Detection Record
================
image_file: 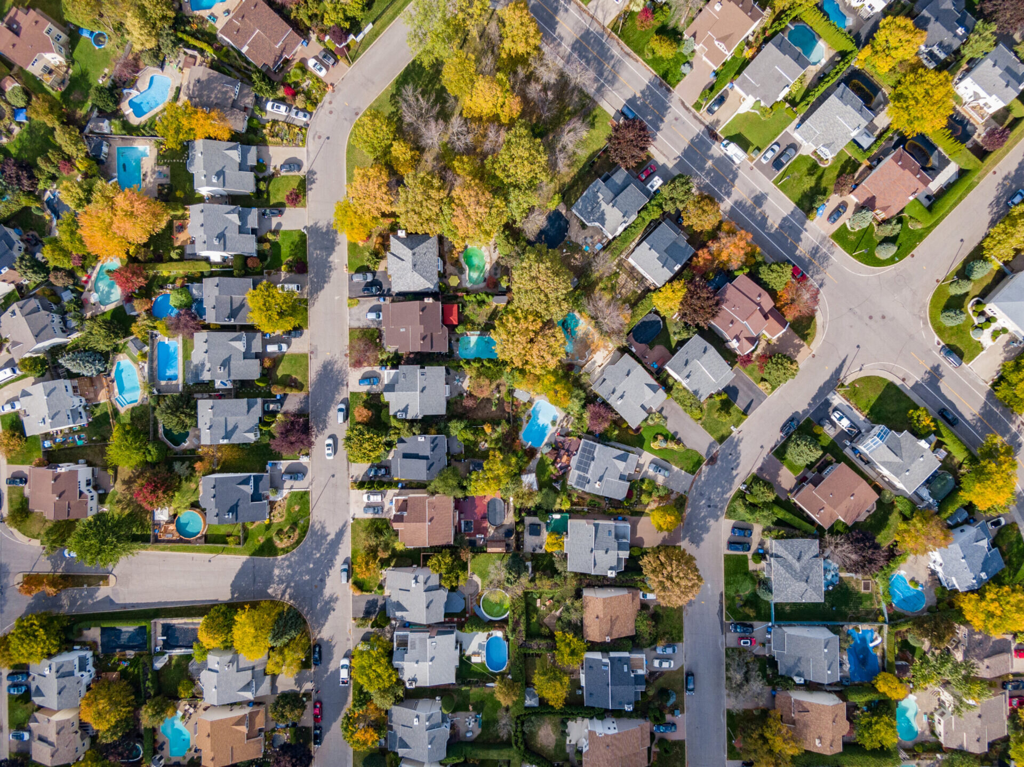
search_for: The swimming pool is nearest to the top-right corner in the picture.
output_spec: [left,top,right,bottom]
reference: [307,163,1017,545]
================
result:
[947,110,979,145]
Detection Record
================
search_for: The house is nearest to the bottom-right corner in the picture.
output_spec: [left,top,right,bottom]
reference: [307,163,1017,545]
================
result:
[922,693,1007,754]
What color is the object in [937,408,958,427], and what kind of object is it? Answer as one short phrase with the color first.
black car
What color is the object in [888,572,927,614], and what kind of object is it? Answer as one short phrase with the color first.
blue swimming pool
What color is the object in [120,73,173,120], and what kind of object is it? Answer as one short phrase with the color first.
blue swimming pool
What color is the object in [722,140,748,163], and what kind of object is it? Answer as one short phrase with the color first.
white vehicle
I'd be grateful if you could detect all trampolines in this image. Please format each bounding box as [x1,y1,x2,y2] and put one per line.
[92,32,108,48]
